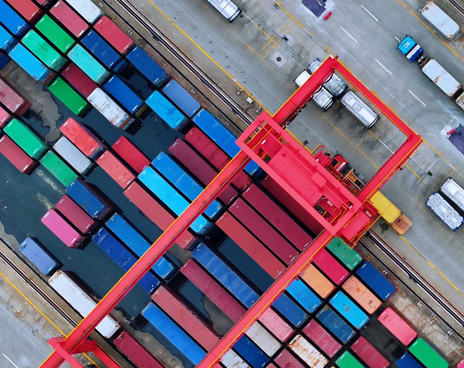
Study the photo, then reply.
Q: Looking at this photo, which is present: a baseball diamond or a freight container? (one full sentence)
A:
The image shows a freight container.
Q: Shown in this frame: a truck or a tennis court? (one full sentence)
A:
Visible in the photo is a truck.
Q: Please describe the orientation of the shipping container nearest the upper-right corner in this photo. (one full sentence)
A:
Seen from above, the shipping container nearest the upper-right corner lies on a diagonal.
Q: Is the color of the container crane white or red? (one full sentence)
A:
In this view, the container crane is red.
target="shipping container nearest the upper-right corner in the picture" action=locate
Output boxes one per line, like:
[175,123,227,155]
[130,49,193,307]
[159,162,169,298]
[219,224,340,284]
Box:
[420,1,460,41]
